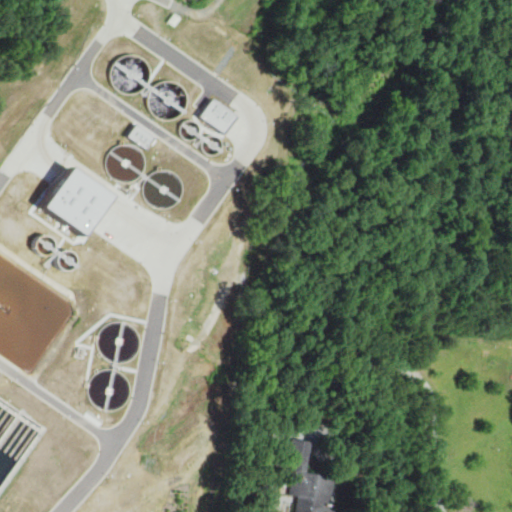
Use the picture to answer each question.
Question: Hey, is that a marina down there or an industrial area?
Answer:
industrial area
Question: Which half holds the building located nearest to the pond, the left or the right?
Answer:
left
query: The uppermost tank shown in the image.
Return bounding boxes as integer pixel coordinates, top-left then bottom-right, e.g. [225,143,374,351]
[110,54,152,96]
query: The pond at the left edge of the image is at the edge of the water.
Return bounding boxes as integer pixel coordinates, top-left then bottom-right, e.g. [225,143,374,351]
[0,242,80,378]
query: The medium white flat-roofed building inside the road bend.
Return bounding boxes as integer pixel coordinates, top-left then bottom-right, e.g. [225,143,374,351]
[200,99,238,134]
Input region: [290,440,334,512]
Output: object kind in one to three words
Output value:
house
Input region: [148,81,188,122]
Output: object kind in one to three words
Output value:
storage tank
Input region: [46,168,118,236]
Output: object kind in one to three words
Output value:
building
